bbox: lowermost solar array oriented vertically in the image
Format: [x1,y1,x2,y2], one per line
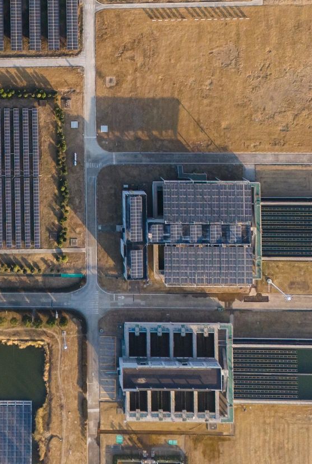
[131,250,143,278]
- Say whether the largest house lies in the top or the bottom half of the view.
bottom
